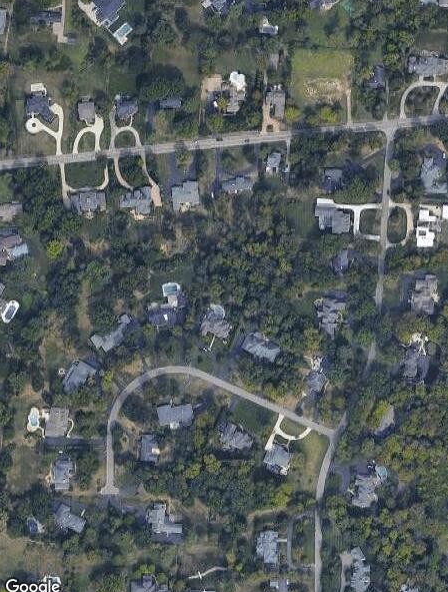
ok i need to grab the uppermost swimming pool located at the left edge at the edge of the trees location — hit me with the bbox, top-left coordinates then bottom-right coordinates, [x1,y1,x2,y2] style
[1,299,19,322]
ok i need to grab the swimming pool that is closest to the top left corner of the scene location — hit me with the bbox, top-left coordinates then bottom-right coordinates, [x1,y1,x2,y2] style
[113,21,133,39]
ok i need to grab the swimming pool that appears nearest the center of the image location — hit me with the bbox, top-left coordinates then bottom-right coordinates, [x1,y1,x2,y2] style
[163,283,181,296]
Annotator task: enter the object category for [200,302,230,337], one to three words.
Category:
house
